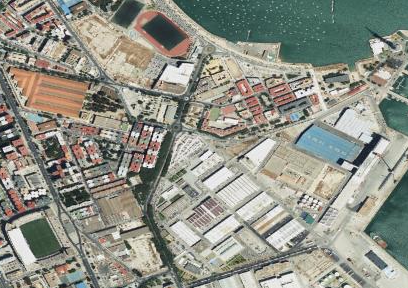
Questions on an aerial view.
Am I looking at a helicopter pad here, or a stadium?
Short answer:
stadium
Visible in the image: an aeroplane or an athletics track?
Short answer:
athletics track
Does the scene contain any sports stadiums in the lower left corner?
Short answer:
Yes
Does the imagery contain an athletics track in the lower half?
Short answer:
No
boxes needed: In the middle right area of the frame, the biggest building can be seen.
[295,125,365,164]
